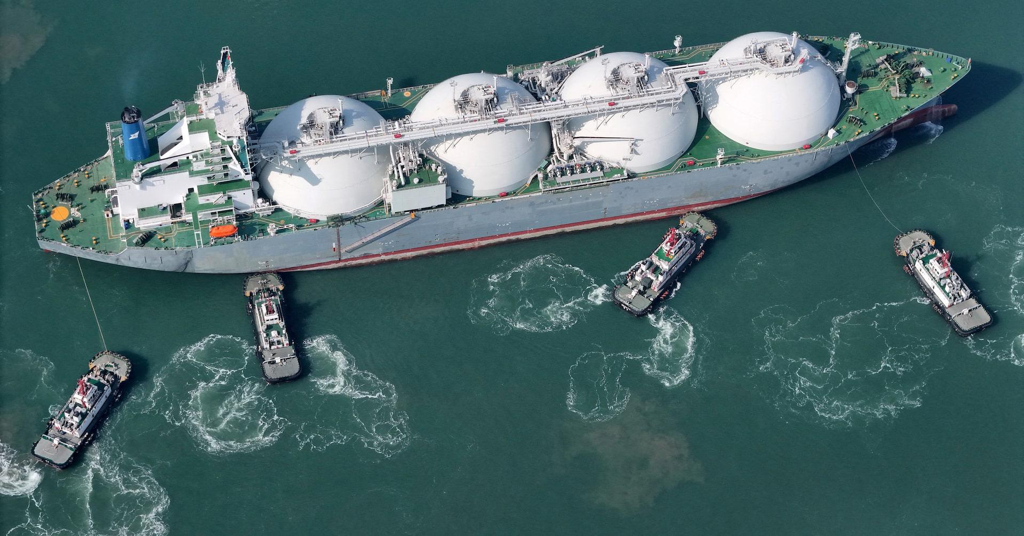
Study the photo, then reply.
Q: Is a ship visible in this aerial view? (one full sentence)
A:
Yes, there's a ship down there.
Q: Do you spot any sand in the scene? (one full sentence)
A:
No, there is no sand in the image.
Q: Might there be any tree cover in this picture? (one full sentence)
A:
No, there is no tree cover in the image.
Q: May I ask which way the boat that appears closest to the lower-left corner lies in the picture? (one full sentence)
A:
What the image shows is the boat that appears closest to the lower-left corner lying diagonally.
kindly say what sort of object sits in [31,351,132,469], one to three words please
boat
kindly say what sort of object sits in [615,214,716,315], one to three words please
boat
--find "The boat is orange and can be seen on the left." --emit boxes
[209,225,239,238]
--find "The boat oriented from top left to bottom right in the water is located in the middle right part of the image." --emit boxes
[895,230,996,338]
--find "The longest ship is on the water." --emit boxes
[27,28,974,274]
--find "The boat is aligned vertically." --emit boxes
[242,271,305,387]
